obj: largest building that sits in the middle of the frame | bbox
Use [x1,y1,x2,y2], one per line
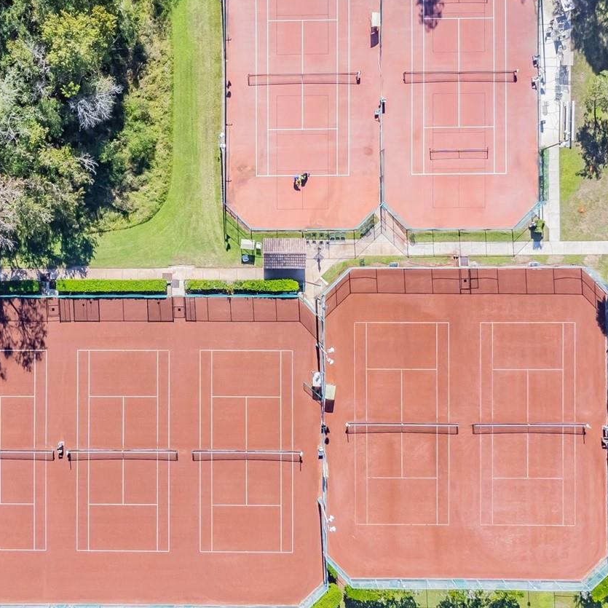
[263,238,306,270]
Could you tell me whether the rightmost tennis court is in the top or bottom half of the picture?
bottom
